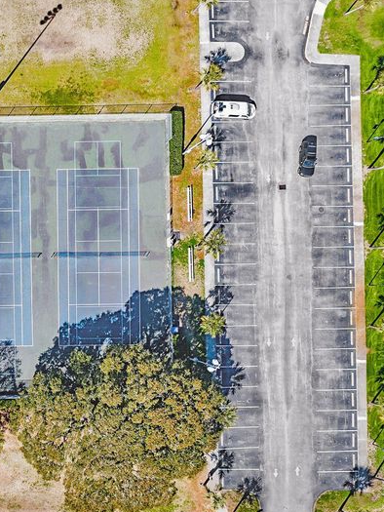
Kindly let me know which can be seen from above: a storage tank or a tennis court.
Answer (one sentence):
There is a tennis court in the scene.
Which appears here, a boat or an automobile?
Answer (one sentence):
Visible in the photo is an automobile.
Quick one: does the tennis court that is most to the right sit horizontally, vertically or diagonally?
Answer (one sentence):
The tennis court that is most to the right runs vertically in the image.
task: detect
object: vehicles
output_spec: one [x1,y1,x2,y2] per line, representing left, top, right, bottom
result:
[296,141,316,178]
[213,100,254,119]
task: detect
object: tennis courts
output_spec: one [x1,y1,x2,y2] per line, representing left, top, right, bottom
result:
[0,169,33,346]
[56,141,141,374]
